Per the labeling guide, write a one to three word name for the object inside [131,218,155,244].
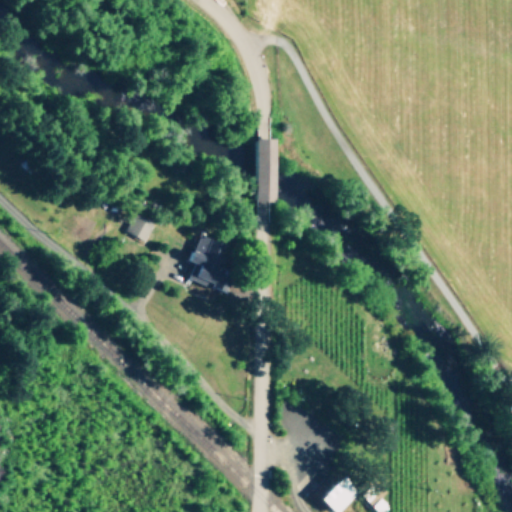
house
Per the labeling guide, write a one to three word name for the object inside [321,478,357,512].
barn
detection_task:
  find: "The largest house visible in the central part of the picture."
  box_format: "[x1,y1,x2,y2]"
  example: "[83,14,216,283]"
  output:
[189,232,224,291]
